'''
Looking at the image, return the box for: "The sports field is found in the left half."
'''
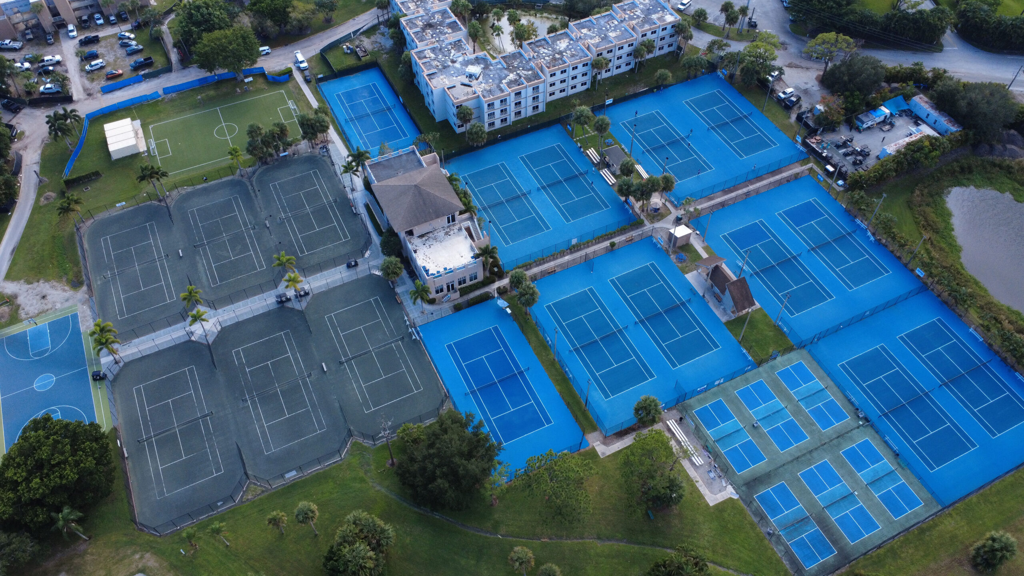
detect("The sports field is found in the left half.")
[145,83,318,182]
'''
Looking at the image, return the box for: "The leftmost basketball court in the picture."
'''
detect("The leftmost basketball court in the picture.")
[0,296,117,467]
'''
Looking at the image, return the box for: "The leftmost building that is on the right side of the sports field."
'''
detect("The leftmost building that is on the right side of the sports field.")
[367,148,491,299]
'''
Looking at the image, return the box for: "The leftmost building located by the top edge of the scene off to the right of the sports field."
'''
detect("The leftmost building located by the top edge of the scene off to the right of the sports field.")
[386,0,681,134]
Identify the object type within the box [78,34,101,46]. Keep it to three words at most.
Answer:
vehicle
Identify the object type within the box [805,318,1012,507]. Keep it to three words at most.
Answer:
tennis court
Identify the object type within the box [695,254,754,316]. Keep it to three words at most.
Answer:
building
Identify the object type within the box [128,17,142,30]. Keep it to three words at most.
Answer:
vehicle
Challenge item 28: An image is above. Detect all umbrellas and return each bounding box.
[496,296,512,308]
[651,196,665,206]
